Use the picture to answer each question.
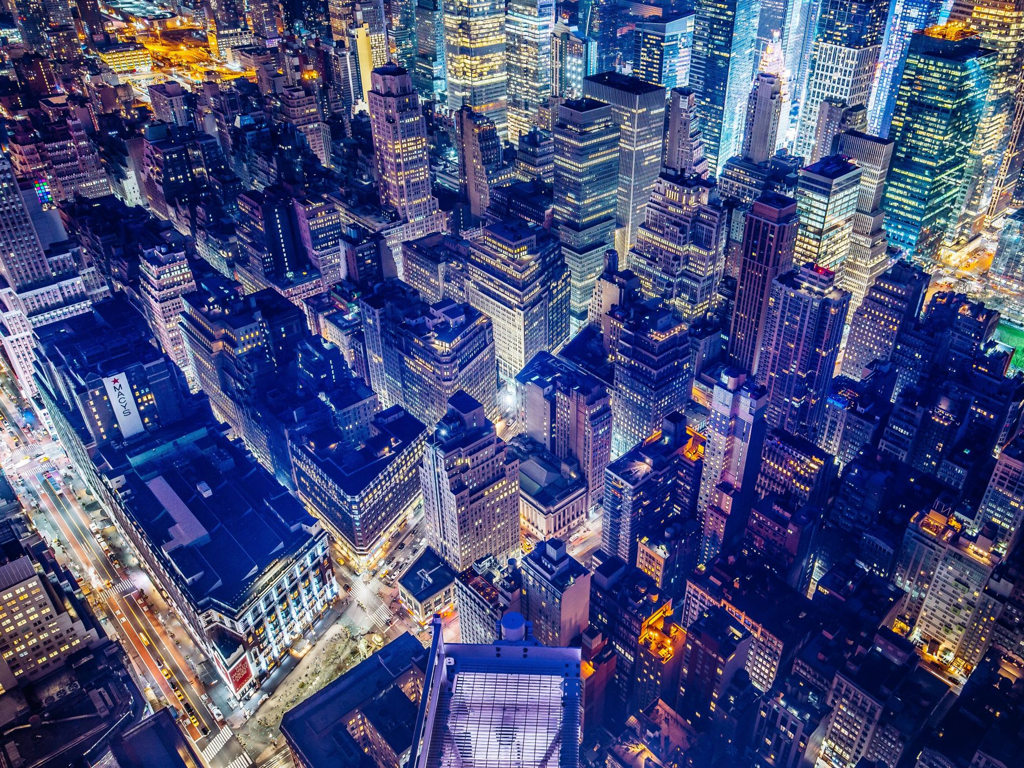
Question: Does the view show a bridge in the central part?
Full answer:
No, in the central part there is no bridge.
